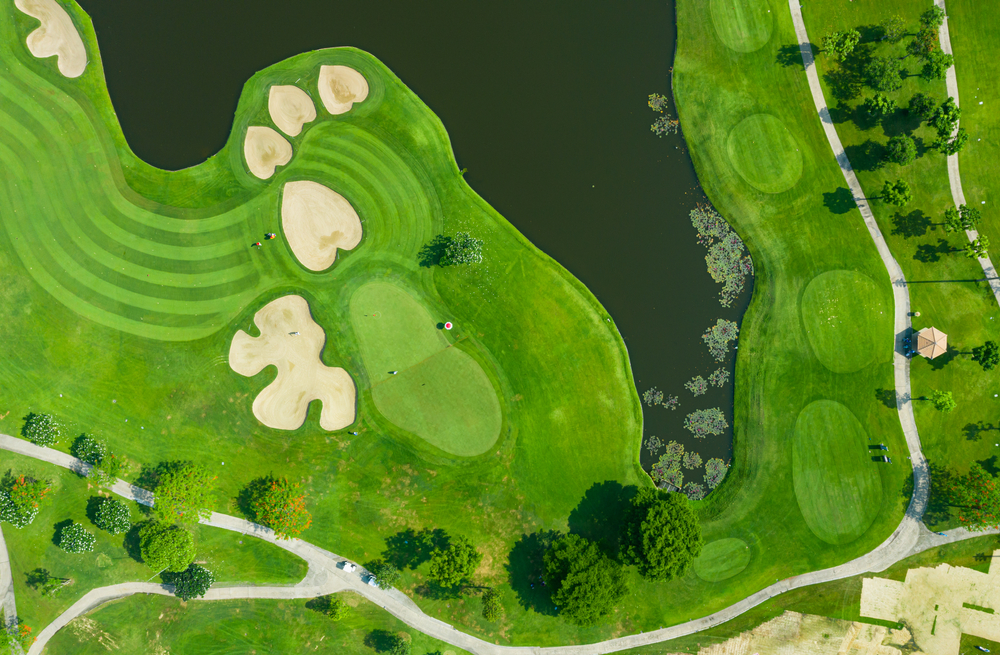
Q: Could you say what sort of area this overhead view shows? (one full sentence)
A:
This image shows a golf course.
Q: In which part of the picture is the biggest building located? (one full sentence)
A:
The biggest building is in the right part of the image.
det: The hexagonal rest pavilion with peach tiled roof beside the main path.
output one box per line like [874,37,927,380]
[910,326,947,360]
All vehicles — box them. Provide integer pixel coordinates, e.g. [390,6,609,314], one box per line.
[342,561,355,573]
[368,575,381,587]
